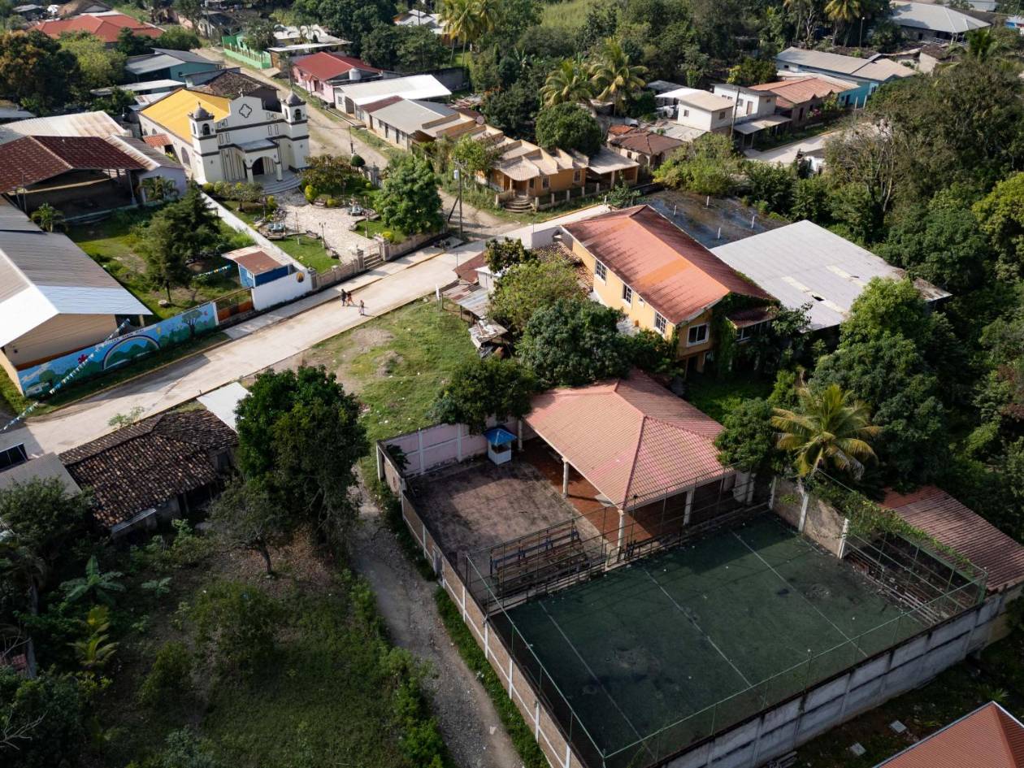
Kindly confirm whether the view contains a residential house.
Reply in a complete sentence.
Yes, there's a residential house down there.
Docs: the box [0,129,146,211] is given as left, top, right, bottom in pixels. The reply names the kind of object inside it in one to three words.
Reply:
building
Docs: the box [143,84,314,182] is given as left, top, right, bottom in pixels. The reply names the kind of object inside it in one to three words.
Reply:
building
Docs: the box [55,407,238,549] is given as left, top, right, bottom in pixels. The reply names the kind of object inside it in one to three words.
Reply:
house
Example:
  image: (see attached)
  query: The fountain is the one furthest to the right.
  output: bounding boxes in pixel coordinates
[339,197,375,217]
